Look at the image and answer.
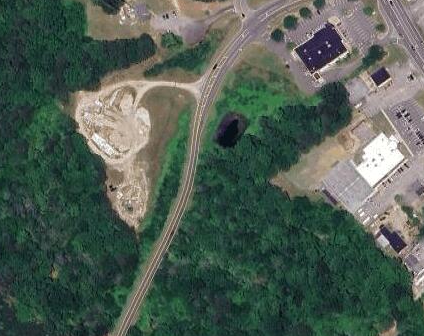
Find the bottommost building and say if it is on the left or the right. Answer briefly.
right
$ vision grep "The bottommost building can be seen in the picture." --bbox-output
[403,250,424,276]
